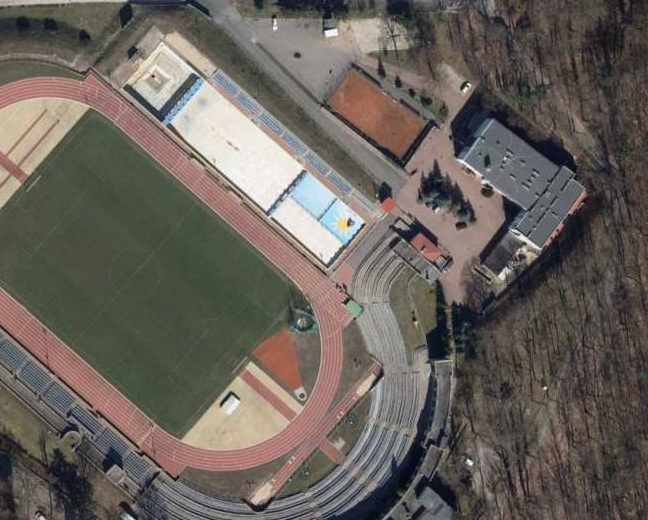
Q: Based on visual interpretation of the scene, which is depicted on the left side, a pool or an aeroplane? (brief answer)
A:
pool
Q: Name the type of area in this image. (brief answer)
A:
sports ground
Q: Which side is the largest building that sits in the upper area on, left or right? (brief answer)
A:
right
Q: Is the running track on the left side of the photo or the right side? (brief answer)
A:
left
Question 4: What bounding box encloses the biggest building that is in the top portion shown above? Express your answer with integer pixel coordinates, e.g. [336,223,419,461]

[459,118,587,256]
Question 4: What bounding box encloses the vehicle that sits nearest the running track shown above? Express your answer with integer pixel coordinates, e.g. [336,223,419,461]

[120,507,137,520]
